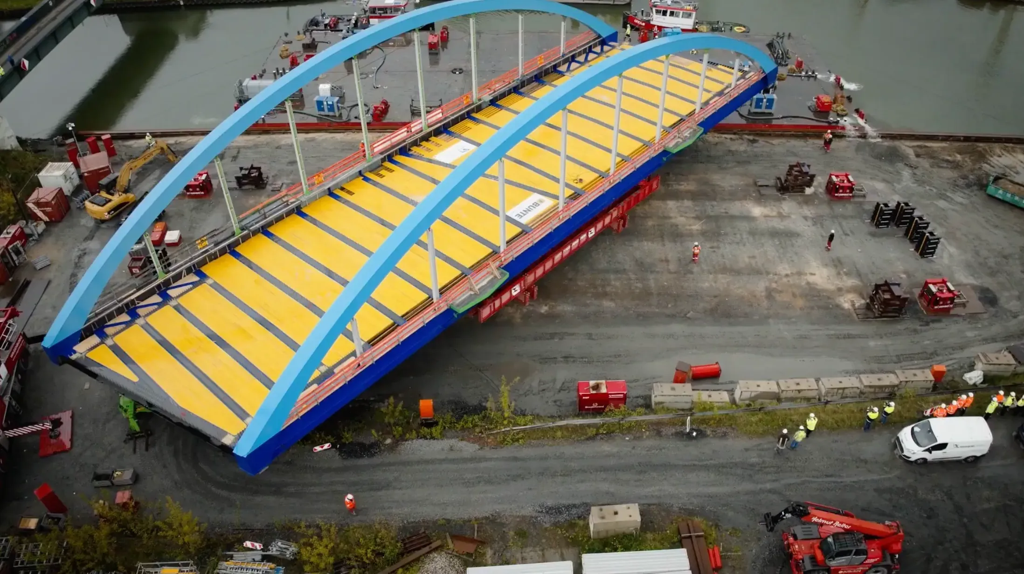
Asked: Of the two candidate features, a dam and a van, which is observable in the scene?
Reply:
van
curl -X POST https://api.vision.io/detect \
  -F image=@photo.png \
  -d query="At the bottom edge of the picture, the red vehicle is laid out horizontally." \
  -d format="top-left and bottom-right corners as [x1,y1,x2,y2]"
[762,502,916,574]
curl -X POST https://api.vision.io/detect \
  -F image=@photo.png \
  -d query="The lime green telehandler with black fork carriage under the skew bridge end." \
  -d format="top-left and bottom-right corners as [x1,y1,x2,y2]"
[104,391,155,458]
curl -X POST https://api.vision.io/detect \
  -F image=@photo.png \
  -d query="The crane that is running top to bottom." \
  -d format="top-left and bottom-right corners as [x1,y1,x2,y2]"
[0,289,63,451]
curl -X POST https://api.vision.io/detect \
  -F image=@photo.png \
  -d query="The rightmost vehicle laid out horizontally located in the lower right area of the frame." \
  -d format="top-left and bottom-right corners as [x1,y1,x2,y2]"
[893,418,996,465]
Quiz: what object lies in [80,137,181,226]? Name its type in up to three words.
work vehicle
